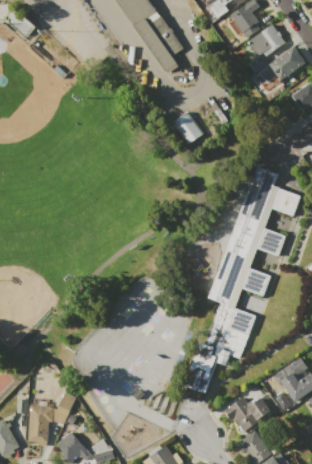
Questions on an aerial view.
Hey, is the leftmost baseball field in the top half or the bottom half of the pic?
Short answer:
bottom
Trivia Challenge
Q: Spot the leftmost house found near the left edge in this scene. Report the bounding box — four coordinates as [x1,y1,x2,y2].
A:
[0,420,21,456]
